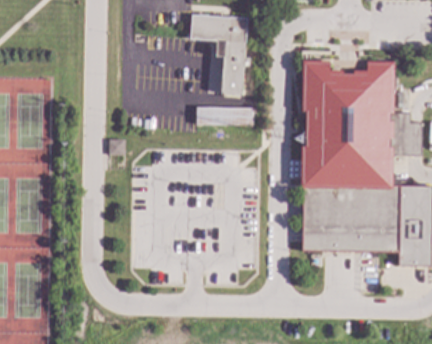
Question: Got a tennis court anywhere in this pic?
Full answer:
Yes, the image includes a tennis court.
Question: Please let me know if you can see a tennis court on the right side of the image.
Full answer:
No, the scene shows no tennis court on the right side of the image.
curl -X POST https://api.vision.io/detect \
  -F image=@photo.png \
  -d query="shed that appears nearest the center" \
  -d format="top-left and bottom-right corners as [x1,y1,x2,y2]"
[198,106,256,126]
